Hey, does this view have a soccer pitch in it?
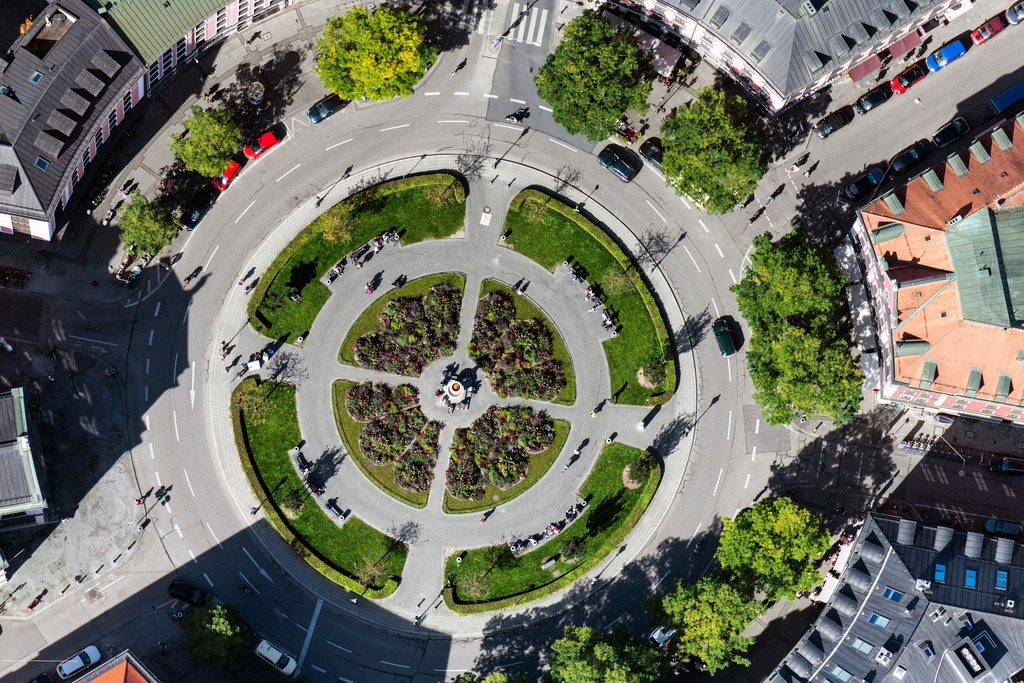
No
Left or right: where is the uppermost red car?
right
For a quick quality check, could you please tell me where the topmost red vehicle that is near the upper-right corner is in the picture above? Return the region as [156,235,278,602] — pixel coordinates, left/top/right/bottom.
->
[971,14,1007,42]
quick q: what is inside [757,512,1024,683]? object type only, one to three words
building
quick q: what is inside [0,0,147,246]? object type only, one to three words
building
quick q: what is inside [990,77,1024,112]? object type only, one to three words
van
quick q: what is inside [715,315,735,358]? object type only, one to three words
car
